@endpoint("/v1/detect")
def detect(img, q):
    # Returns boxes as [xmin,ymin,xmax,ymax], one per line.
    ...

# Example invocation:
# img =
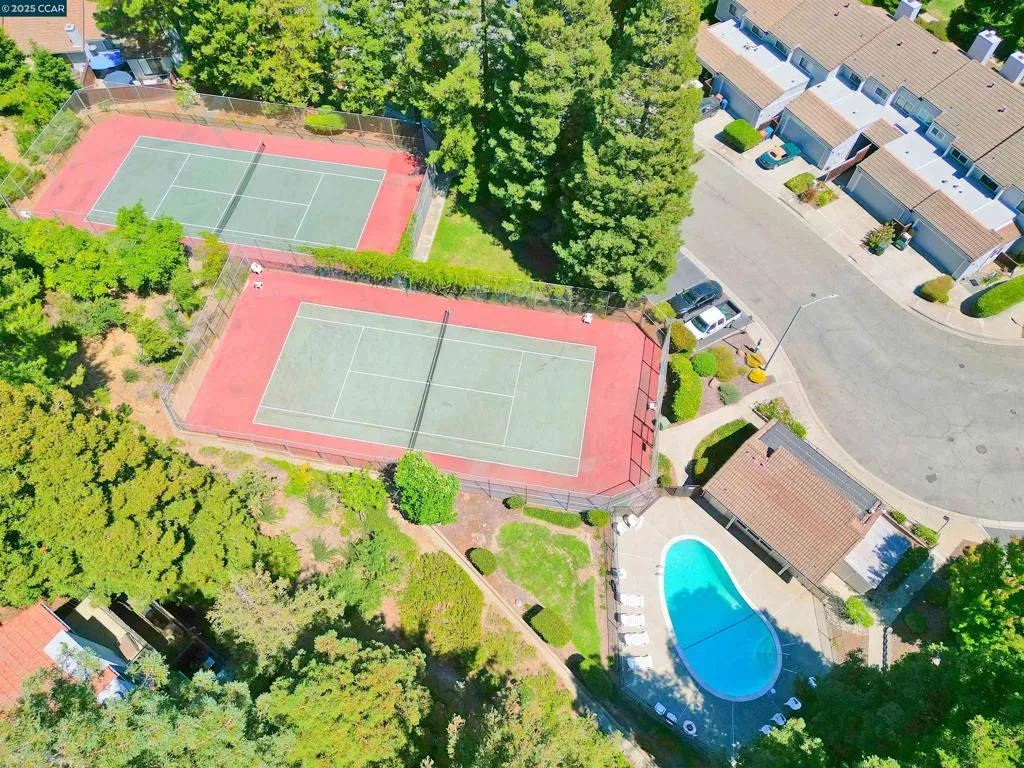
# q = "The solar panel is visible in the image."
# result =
[766,424,874,514]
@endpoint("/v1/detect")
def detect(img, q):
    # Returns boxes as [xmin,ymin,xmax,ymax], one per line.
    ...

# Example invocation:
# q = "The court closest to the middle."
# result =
[186,267,660,514]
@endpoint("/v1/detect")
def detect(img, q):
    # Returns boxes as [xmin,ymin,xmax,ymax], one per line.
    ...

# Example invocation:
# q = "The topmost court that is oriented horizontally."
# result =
[33,114,429,283]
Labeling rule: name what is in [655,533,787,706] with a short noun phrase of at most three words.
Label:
swimming pool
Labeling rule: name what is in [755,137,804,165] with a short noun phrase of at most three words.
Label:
car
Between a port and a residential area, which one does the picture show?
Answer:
residential area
